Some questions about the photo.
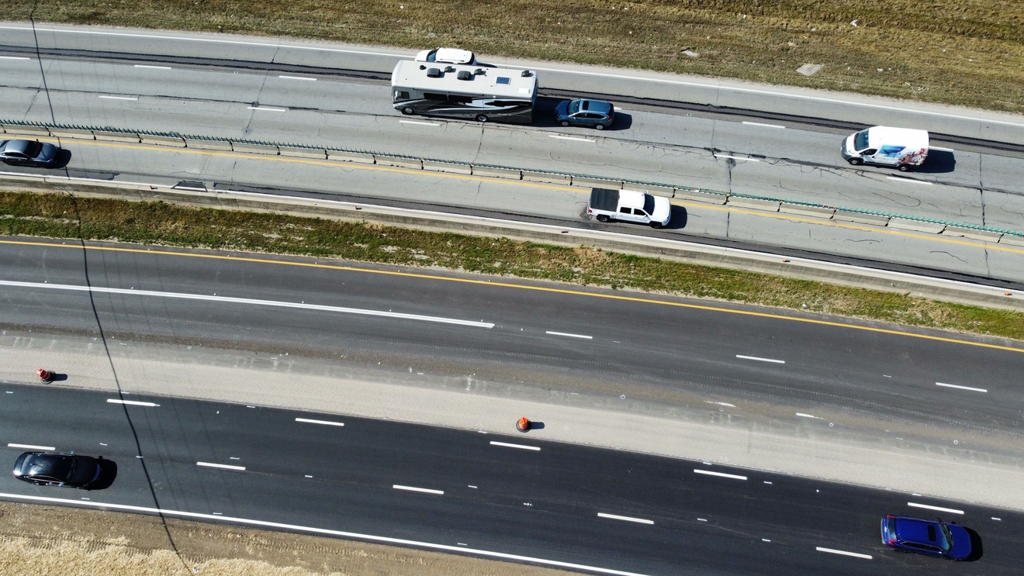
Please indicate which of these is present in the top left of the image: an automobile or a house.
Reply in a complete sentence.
There is an automobile in the top left of the image.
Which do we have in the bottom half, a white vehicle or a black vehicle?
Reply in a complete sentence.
There is a black vehicle in the bottom half.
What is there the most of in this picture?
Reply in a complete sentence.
Most of the picture is covered by paved ground.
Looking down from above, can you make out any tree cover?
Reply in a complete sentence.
No, tree cover can't be seen anywhere here.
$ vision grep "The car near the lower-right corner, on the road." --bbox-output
[878,512,975,561]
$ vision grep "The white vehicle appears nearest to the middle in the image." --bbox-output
[587,188,674,227]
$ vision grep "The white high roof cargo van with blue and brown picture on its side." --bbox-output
[840,126,930,172]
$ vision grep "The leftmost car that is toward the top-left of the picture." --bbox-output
[0,139,61,168]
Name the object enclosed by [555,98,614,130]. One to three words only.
car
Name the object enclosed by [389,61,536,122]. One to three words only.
camper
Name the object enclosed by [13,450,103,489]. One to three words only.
car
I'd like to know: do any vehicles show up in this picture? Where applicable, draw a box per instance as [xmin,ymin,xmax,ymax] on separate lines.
[840,126,930,172]
[587,188,674,227]
[389,61,536,122]
[555,98,614,130]
[13,450,103,489]
[878,512,975,561]
[0,139,61,168]
[417,47,480,67]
